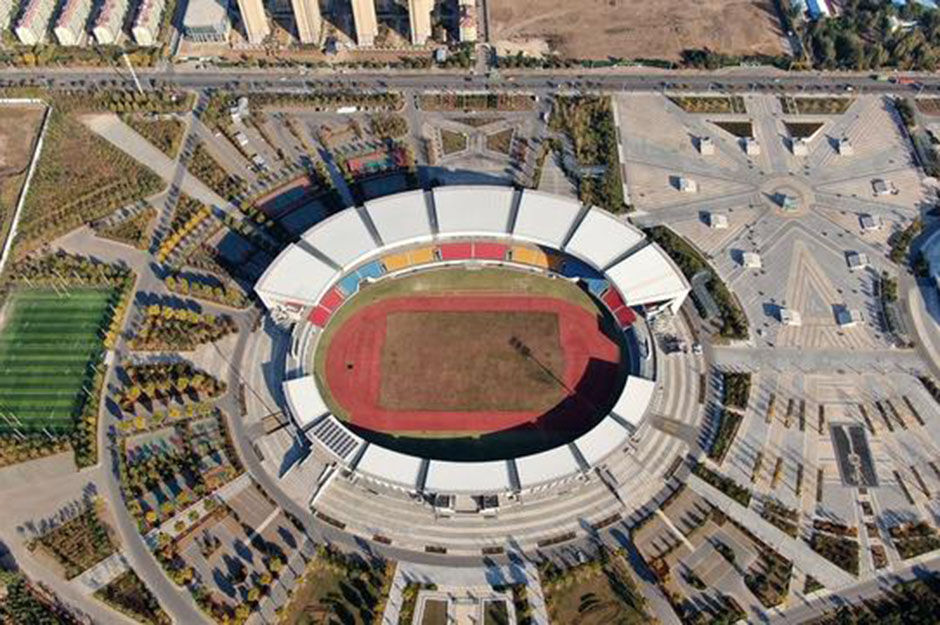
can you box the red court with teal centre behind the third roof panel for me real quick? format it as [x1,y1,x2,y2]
[347,143,412,175]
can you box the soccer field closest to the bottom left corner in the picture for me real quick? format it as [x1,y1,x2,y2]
[0,289,120,436]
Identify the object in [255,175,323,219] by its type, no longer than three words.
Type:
sports court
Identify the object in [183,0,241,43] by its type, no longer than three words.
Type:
building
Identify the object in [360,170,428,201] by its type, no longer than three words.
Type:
sports court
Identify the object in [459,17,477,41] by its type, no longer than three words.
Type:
house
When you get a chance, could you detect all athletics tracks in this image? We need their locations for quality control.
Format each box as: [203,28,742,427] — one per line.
[314,262,631,462]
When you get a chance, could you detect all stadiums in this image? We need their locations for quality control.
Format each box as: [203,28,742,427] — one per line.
[238,185,716,557]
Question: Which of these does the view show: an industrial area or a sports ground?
sports ground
